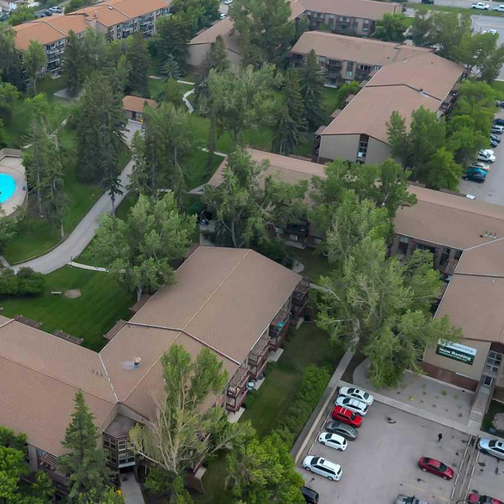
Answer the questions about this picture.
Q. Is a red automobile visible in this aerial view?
Yes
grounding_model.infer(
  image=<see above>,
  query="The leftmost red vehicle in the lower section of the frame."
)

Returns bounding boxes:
[330,404,363,426]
